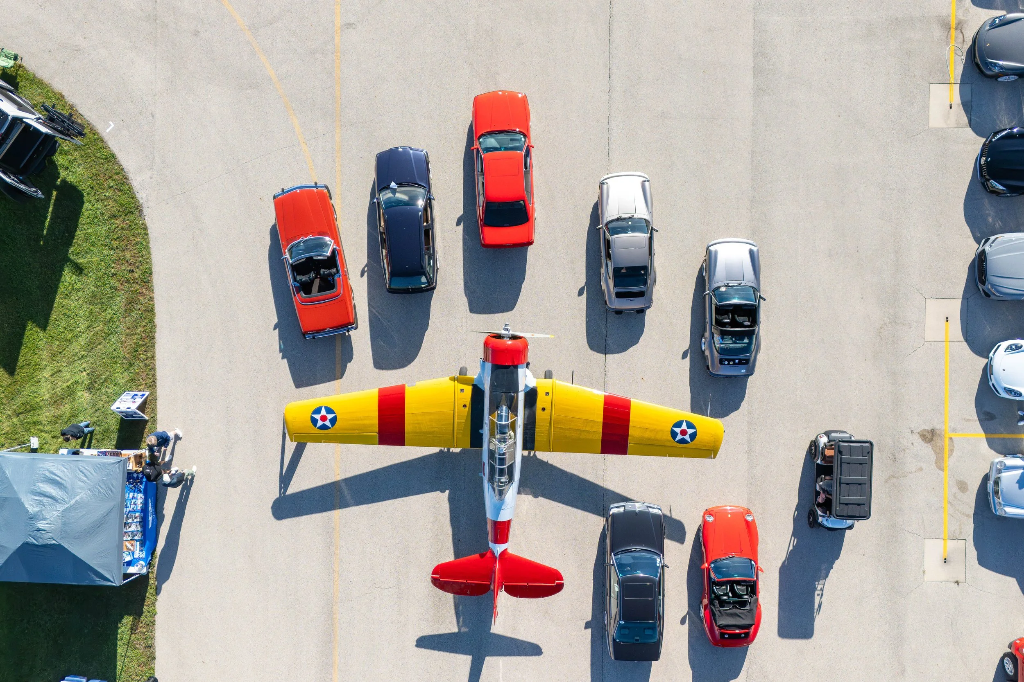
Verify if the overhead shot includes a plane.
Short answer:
Yes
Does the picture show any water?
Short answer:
No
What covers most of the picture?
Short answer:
paved ground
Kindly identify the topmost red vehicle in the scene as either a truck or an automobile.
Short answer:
automobile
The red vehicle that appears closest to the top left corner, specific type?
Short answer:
car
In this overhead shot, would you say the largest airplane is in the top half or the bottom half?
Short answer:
bottom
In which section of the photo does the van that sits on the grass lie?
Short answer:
top left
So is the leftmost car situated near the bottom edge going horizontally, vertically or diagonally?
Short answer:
vertically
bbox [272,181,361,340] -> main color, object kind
red car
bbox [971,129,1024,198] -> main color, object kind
black car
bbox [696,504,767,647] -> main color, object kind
red car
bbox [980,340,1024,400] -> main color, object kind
white car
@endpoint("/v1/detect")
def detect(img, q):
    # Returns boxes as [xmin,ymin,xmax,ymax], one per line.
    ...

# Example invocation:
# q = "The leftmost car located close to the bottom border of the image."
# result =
[603,500,671,664]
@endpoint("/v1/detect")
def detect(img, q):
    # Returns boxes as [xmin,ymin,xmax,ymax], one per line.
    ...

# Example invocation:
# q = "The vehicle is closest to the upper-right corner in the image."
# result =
[965,13,1024,83]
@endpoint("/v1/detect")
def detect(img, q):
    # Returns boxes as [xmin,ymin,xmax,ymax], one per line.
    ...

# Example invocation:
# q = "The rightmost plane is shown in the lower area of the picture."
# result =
[282,323,725,625]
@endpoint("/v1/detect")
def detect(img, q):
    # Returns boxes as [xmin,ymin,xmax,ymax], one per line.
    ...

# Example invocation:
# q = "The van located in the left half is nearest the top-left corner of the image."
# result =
[0,87,82,198]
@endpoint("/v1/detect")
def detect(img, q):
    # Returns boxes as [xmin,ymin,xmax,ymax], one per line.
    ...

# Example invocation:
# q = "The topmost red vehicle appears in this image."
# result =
[469,89,537,249]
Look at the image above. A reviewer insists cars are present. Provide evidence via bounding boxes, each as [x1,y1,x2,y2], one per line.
[965,13,1024,83]
[595,171,661,315]
[968,234,1024,299]
[696,504,767,647]
[371,146,439,293]
[698,237,768,377]
[980,340,1024,400]
[603,500,671,664]
[469,89,537,249]
[971,129,1024,198]
[982,456,1024,518]
[994,640,1024,682]
[272,181,361,340]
